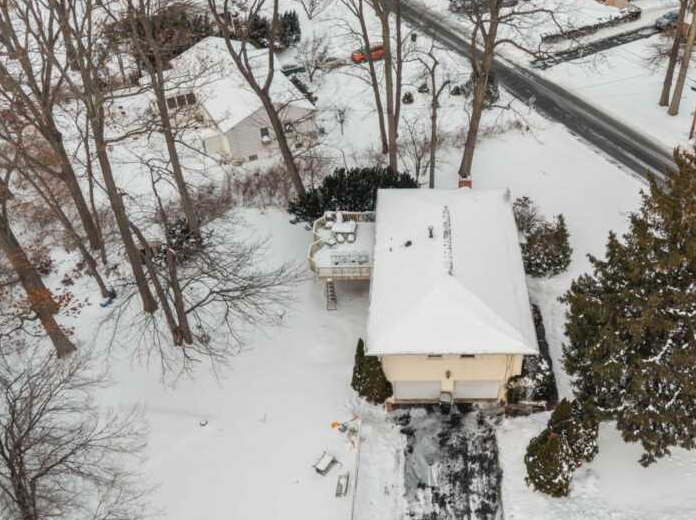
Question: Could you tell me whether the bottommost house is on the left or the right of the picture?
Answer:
right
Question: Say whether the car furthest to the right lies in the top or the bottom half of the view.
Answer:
top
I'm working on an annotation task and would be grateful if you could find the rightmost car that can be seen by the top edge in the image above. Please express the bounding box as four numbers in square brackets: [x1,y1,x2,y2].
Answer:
[649,11,677,33]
